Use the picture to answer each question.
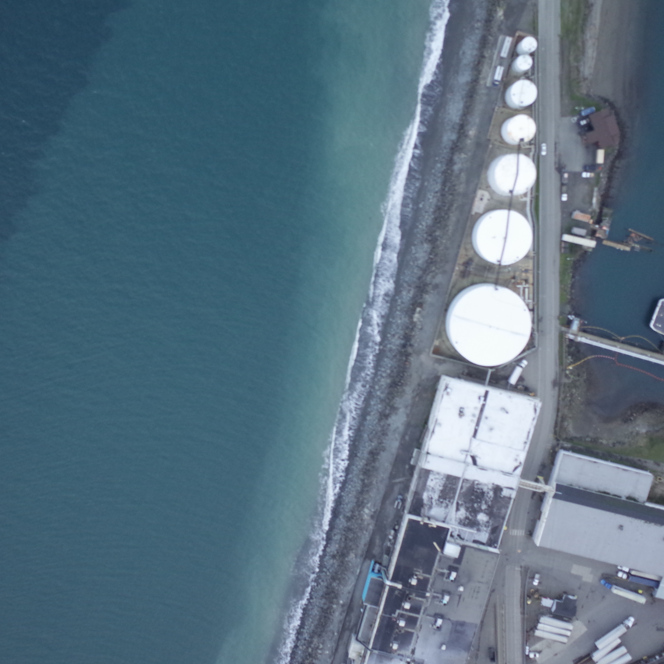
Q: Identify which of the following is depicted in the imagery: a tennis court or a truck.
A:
truck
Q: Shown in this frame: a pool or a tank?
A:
tank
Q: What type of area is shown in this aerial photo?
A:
port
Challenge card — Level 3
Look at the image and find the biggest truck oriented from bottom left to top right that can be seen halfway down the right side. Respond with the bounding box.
[508,355,531,384]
